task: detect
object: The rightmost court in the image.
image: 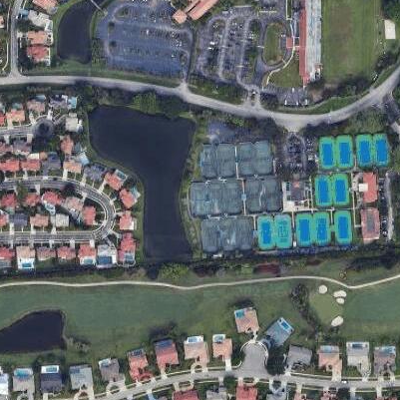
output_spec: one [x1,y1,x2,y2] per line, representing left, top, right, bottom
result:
[374,134,391,169]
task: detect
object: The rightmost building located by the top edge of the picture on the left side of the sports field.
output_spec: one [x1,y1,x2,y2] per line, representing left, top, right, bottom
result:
[286,0,323,84]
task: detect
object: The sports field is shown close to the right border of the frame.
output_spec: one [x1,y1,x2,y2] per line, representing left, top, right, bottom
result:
[323,0,380,82]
